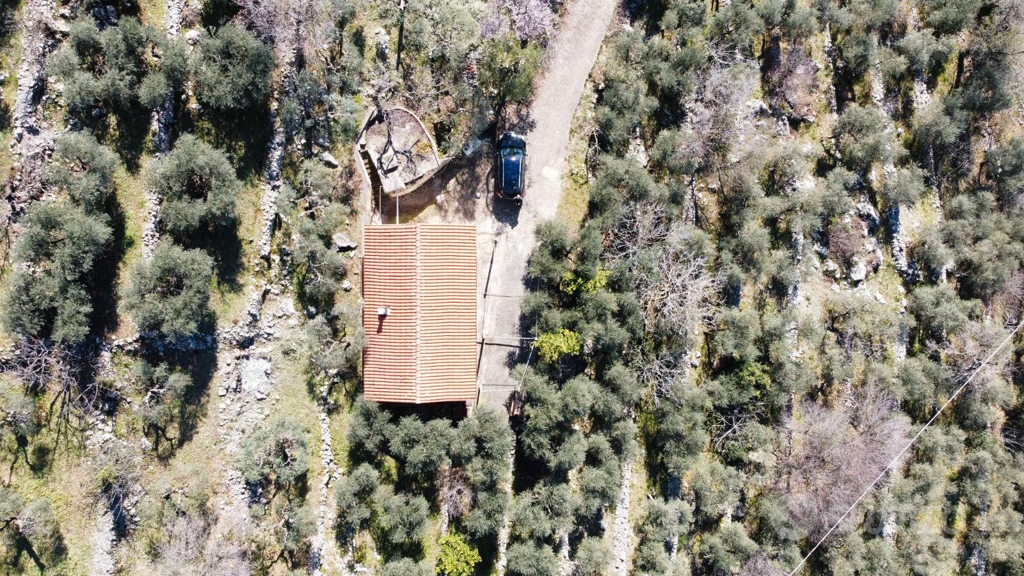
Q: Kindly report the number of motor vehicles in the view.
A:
one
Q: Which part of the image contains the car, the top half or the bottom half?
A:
top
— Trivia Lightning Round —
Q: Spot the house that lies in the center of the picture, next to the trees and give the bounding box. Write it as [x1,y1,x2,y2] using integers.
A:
[362,223,478,406]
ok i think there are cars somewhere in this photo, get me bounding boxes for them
[495,133,528,201]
